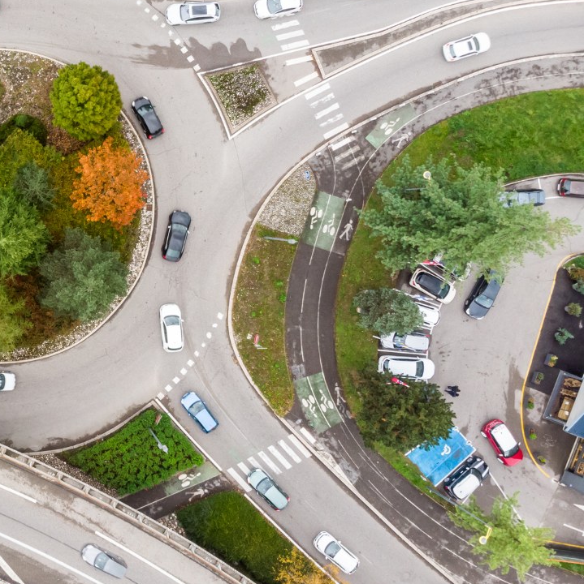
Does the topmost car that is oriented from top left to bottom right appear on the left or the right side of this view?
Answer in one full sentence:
The topmost car that is oriented from top left to bottom right sits on the left side.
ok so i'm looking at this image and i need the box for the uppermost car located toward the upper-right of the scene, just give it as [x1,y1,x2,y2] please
[440,32,491,61]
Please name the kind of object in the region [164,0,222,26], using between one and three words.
car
